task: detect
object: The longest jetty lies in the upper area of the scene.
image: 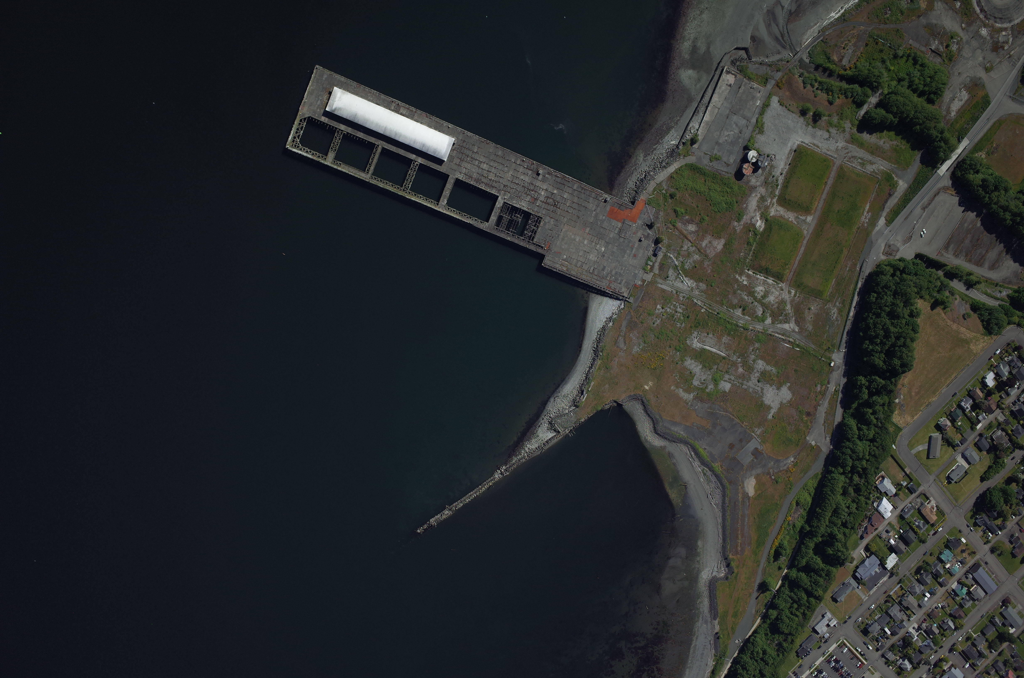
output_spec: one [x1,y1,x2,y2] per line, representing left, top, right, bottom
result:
[287,65,657,300]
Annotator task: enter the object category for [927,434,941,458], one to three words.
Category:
house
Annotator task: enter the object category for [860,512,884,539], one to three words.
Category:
house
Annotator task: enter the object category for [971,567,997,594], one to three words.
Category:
building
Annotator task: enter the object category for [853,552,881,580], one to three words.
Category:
building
